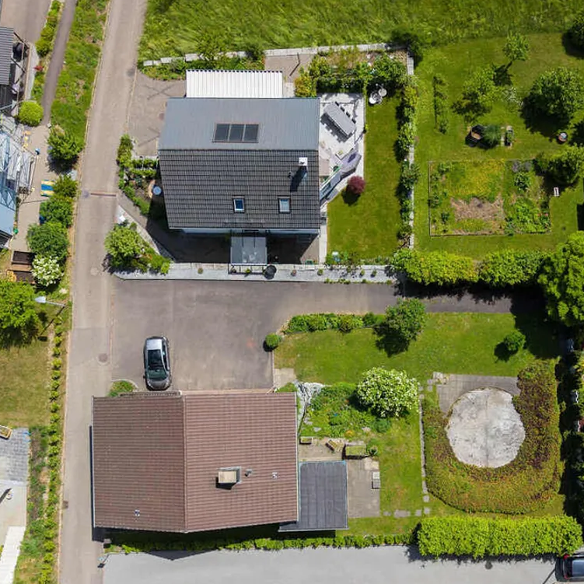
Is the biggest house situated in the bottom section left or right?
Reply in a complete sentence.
The biggest house situated in the bottom section is on the left side of the image.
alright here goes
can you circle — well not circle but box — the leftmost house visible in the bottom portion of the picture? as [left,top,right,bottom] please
[91,393,300,534]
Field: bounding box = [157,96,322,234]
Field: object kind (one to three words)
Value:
house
